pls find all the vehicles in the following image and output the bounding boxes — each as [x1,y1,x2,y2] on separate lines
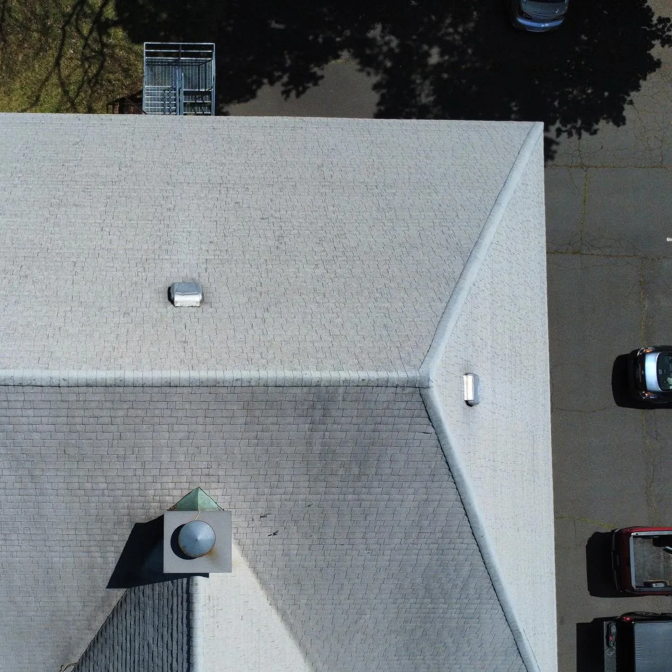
[610,531,672,592]
[507,0,570,36]
[603,613,672,672]
[627,347,672,403]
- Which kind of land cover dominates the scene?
buildings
